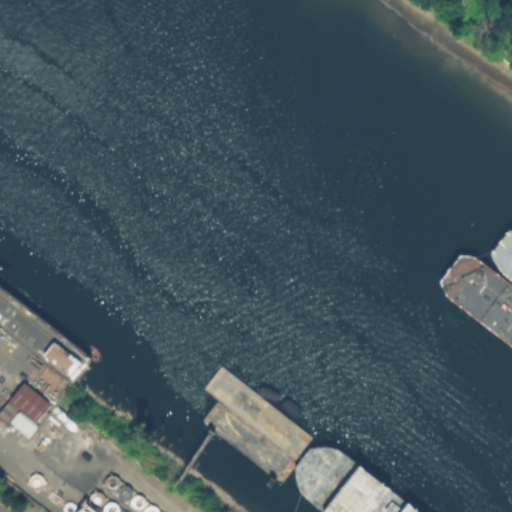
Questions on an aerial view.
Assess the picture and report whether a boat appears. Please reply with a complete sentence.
Yes, there's a boat here.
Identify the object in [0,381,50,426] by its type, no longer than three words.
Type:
building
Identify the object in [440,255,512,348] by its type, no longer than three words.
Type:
ship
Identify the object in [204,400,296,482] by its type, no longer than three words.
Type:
ship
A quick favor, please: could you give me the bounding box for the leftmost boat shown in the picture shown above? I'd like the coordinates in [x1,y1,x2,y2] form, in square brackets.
[53,406,79,432]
